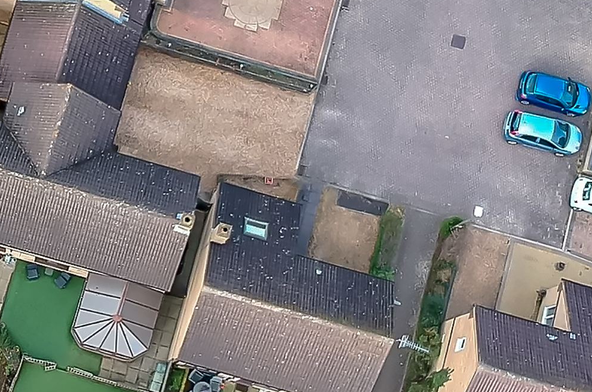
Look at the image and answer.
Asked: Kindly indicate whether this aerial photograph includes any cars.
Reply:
Yes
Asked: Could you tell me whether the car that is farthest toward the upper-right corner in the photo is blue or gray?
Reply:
blue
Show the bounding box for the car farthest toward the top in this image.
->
[513,71,592,118]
